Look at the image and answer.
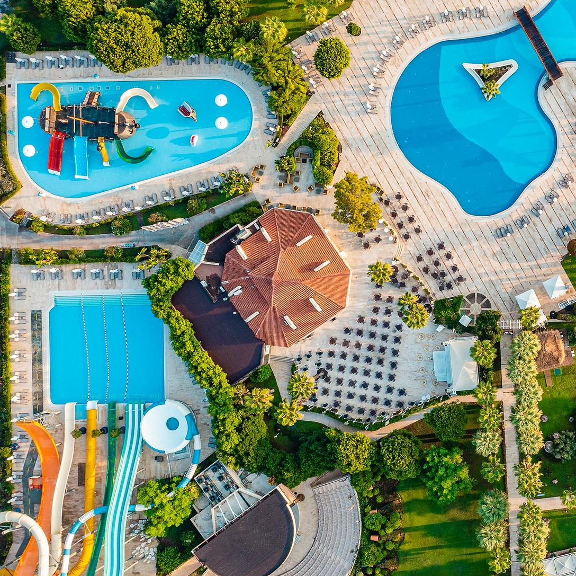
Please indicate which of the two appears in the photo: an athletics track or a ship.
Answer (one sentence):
Visible in the photo is a ship.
